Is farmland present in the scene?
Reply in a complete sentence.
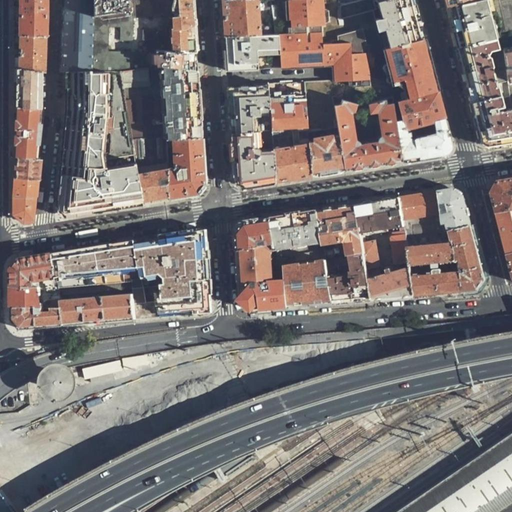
No, the picture contains no farmland.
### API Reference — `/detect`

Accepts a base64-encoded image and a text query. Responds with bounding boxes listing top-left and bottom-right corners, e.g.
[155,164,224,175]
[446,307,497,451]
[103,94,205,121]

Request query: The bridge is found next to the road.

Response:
[24,331,512,512]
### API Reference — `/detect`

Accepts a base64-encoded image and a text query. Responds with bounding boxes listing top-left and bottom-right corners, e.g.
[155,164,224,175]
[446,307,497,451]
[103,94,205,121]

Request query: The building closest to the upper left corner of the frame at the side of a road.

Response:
[18,0,50,37]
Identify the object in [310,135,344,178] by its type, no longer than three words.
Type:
building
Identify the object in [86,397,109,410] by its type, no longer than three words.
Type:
vehicle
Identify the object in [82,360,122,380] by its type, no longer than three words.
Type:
shed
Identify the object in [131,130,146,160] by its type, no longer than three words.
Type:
house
